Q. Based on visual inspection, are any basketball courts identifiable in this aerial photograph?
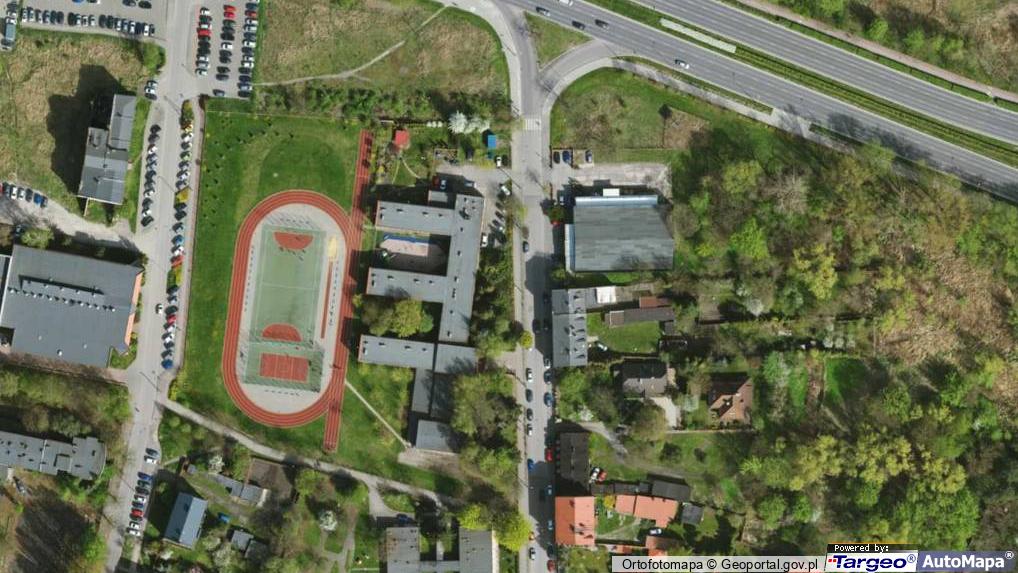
Yes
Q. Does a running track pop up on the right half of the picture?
No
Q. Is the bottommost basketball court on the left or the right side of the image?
left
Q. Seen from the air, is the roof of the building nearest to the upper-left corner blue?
No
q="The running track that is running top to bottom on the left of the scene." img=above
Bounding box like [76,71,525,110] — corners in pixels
[222,128,374,454]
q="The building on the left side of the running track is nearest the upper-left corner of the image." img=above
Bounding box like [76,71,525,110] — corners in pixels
[79,95,140,205]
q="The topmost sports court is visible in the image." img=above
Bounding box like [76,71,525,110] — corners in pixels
[250,226,326,348]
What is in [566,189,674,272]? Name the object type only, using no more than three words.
building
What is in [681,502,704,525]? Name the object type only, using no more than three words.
shed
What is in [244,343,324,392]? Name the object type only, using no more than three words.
basketball court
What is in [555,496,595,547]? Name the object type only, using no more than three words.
house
